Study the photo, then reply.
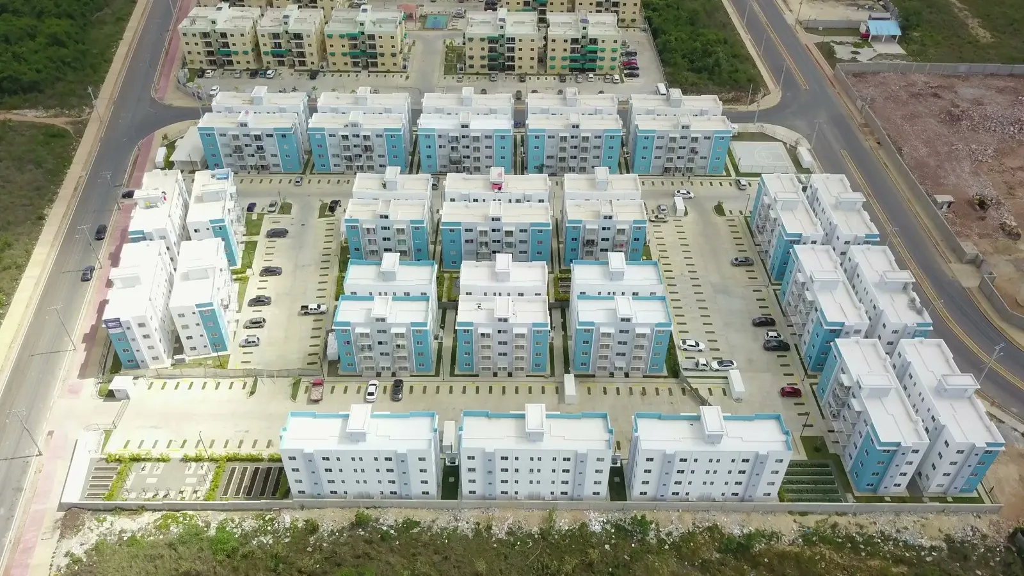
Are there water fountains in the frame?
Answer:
No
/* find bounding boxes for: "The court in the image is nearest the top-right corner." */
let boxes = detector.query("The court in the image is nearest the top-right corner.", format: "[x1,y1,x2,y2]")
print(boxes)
[730,141,796,172]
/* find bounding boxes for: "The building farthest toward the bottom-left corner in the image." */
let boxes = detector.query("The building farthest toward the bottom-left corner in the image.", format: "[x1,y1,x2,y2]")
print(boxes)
[62,429,111,499]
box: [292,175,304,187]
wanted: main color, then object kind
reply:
gray vehicle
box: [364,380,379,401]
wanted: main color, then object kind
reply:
white car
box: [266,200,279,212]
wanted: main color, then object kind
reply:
gray vehicle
